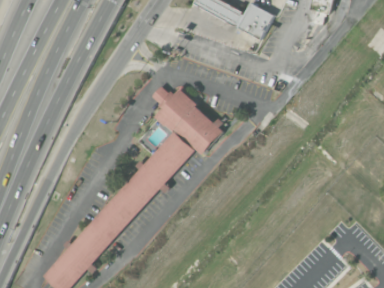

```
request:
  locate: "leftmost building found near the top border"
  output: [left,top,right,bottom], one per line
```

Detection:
[194,0,246,26]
